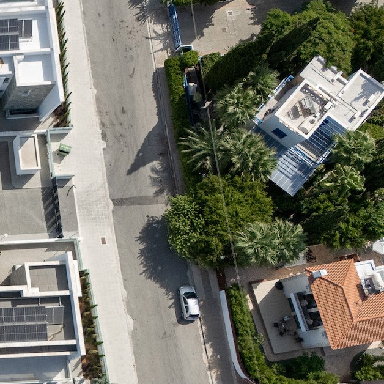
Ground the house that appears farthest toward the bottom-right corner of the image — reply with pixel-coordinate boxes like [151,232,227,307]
[267,258,384,350]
